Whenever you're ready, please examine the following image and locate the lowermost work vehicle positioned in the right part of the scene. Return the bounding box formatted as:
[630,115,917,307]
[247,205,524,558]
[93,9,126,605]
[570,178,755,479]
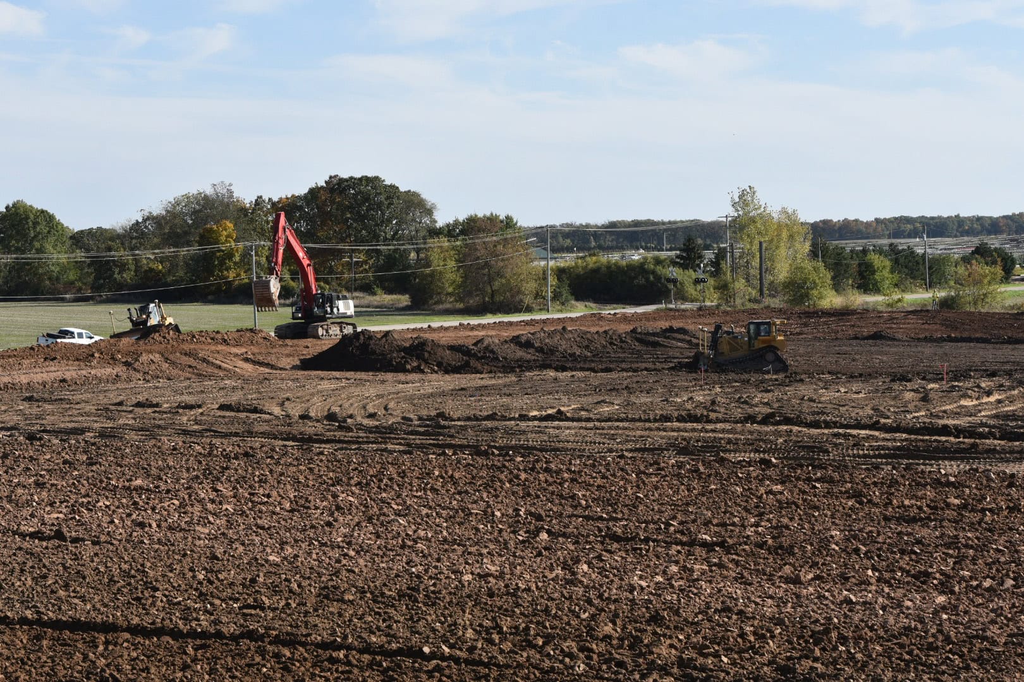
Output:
[694,320,792,371]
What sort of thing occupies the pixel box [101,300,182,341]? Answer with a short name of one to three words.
work vehicle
